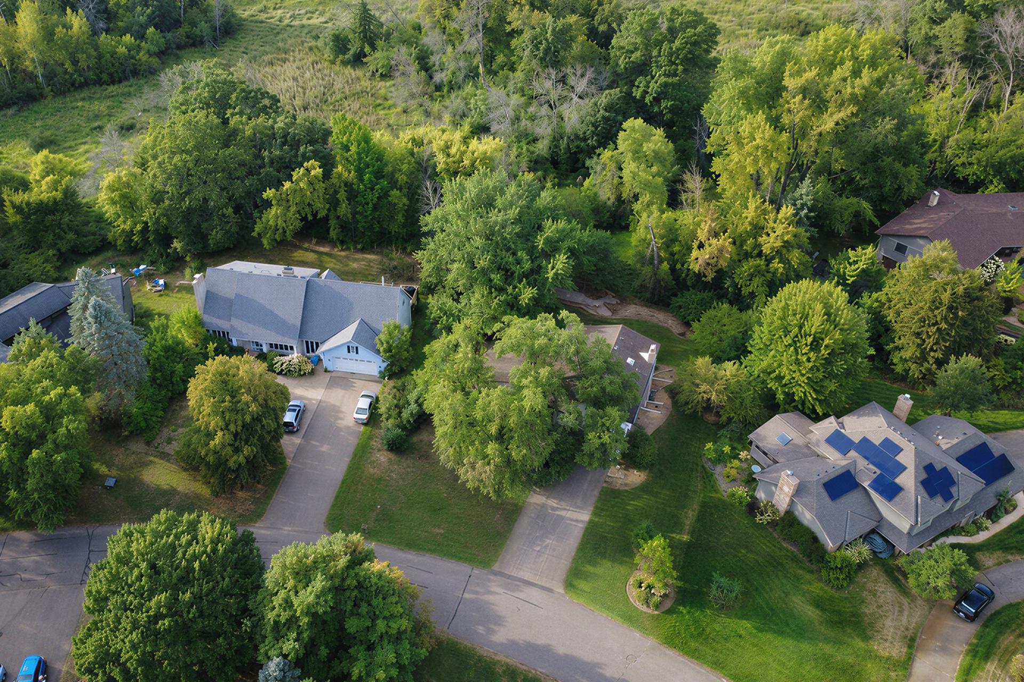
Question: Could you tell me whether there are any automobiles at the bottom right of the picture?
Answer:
Yes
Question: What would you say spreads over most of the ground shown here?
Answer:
trees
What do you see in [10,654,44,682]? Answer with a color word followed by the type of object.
blue car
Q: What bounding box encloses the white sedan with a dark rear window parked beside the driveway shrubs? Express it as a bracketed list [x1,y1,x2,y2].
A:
[352,390,374,423]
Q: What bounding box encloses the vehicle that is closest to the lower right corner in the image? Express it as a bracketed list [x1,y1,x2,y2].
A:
[954,579,1000,626]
